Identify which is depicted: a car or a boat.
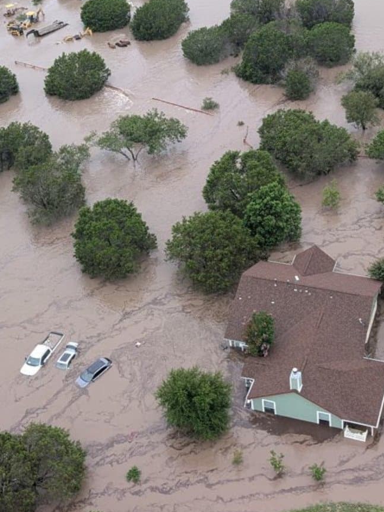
car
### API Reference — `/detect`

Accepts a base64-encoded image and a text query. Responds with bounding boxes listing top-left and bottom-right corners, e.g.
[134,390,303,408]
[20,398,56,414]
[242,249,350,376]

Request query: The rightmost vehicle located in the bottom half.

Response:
[73,356,118,392]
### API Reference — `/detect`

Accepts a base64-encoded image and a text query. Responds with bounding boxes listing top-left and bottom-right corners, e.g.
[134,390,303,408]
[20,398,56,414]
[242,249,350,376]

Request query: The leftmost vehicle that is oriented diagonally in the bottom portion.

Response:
[16,332,66,378]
